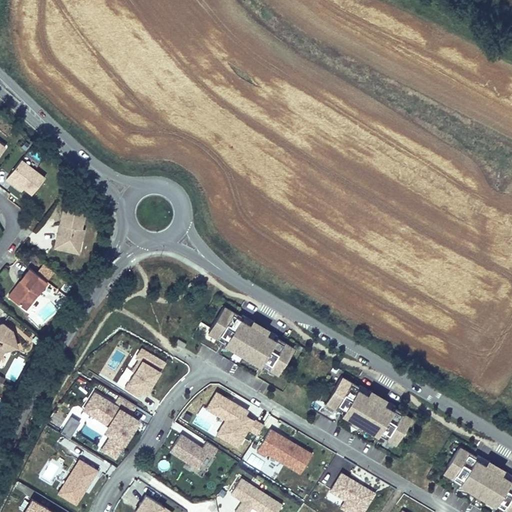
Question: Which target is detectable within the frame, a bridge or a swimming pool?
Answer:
swimming pool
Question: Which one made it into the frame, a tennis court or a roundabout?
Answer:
roundabout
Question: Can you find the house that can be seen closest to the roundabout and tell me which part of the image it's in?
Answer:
left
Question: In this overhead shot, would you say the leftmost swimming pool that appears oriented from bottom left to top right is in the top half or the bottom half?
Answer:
bottom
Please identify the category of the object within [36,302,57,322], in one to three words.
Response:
swimming pool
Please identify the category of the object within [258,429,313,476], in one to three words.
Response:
house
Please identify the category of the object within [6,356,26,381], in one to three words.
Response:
swimming pool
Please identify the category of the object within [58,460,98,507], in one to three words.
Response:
house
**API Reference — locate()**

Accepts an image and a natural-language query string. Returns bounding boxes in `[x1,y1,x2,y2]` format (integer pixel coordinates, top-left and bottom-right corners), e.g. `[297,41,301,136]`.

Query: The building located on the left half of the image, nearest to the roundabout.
[54,210,86,254]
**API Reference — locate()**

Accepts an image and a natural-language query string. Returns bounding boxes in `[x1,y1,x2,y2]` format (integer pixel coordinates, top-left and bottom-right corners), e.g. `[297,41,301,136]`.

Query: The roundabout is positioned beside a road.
[118,176,192,250]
